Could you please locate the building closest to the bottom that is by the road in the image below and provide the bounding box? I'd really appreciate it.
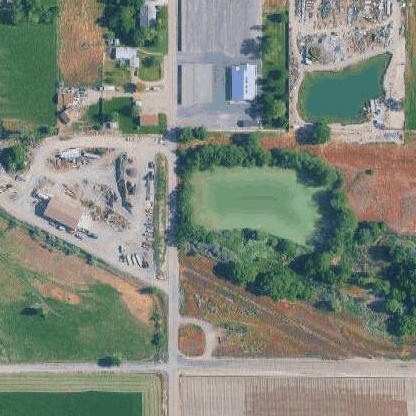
[44,197,83,230]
